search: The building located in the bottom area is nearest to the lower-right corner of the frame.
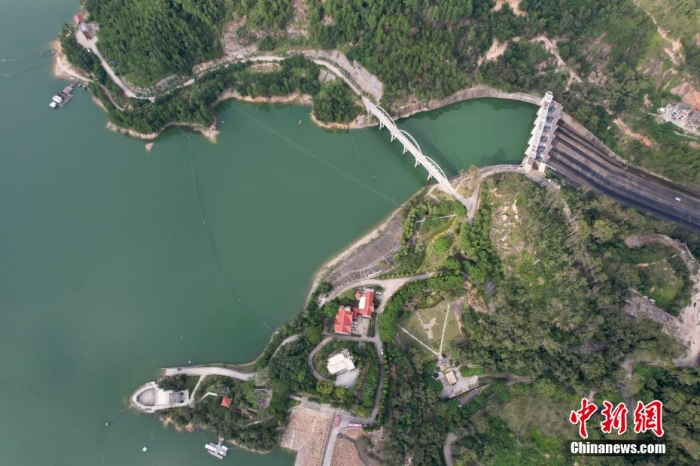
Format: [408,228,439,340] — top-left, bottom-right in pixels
[626,290,685,332]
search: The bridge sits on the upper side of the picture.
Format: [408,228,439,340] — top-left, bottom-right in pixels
[359,94,468,204]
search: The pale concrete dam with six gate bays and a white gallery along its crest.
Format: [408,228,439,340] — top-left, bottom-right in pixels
[520,84,564,167]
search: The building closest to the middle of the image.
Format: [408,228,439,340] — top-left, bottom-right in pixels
[334,288,374,333]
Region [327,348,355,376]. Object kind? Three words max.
house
